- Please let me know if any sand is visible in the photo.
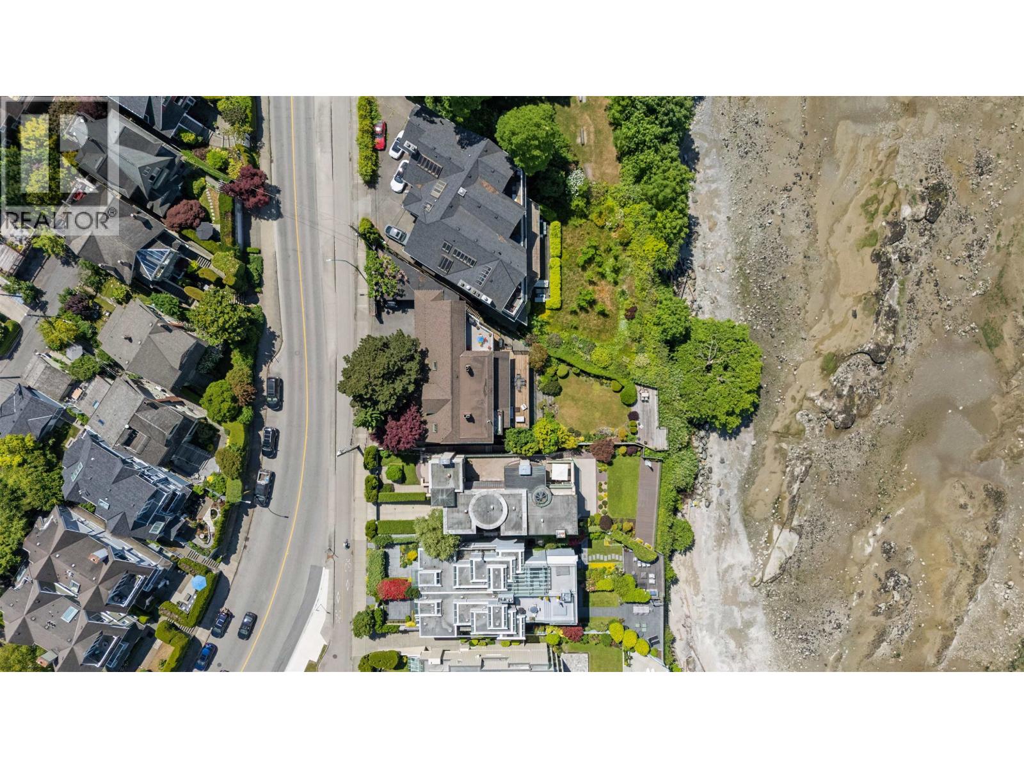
Yes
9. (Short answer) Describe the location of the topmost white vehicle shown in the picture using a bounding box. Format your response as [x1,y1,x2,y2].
[387,130,404,162]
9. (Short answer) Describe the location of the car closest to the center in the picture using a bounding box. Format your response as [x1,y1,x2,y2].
[377,296,408,311]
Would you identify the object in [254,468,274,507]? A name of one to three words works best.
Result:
vehicle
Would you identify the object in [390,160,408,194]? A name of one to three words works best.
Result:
car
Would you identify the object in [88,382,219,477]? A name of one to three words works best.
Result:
house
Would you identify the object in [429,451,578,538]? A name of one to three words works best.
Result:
house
